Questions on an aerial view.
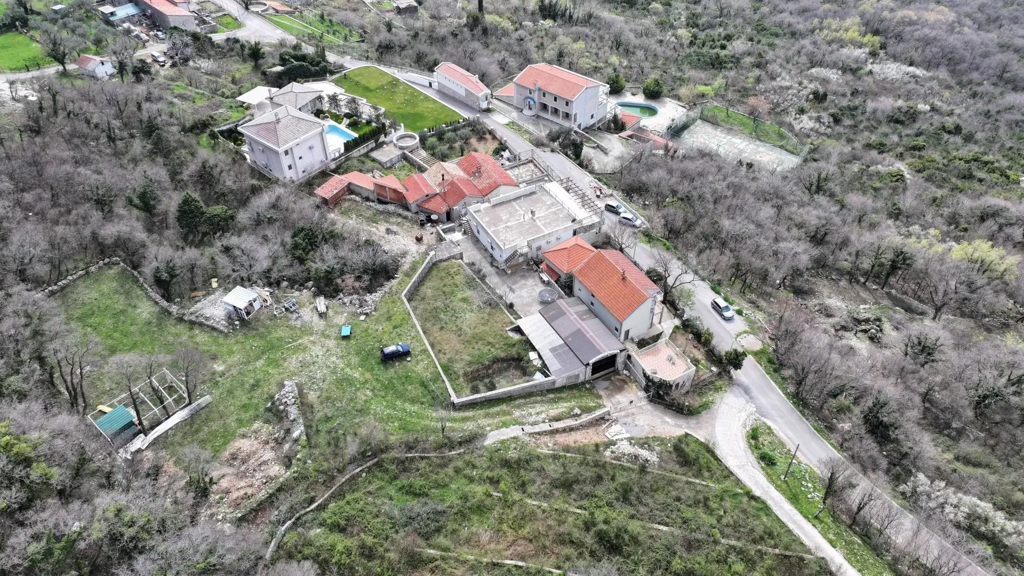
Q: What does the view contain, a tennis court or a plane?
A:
tennis court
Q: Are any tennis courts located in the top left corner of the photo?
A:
No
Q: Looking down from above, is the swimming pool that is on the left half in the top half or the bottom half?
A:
top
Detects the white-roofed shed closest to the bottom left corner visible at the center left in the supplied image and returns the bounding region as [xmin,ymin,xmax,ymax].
[220,286,262,320]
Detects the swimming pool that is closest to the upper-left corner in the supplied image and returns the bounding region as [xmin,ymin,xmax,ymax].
[323,121,351,141]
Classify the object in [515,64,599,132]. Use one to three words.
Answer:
house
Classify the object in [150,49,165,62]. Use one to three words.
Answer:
vehicle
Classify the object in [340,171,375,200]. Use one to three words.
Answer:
shed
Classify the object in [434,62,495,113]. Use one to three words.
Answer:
building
